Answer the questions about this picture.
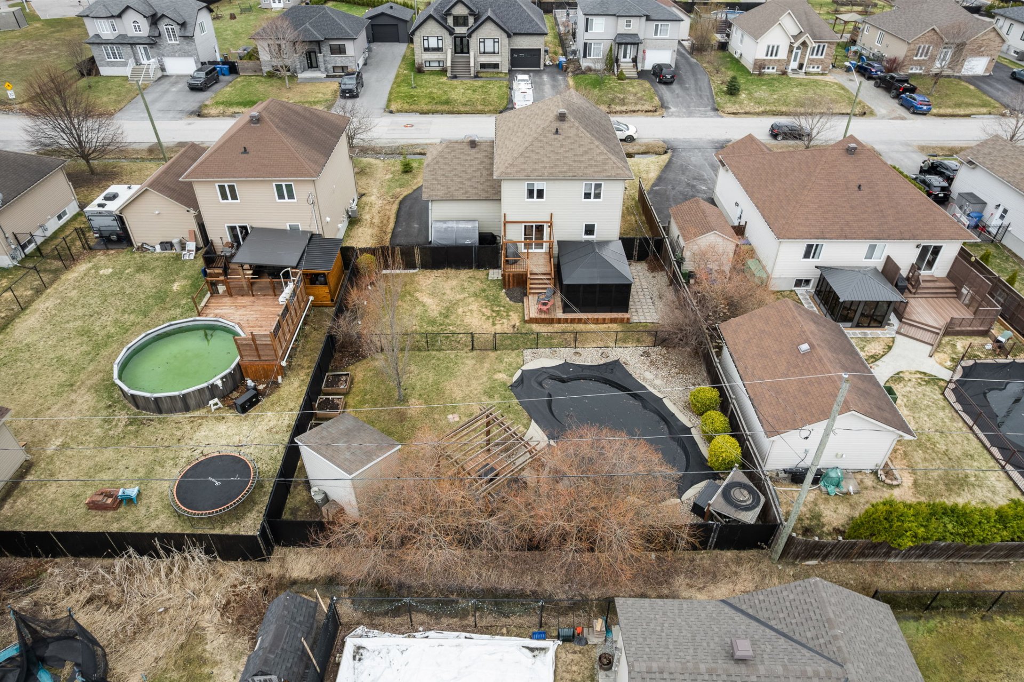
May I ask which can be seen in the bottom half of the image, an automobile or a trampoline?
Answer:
trampoline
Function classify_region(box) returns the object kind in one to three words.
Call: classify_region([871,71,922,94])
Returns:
truck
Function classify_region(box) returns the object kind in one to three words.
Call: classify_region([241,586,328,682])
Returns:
shed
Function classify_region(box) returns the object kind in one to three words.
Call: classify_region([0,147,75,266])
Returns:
house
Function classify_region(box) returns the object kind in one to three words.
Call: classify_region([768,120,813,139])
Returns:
car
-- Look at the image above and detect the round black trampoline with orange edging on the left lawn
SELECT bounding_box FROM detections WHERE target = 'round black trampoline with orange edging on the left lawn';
[171,453,263,528]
